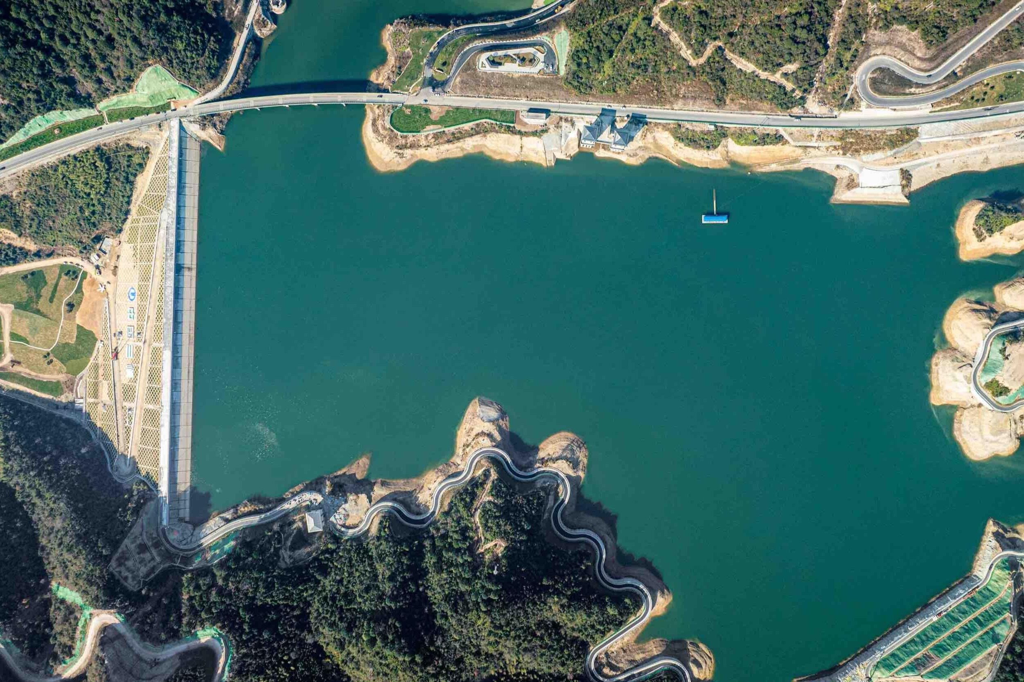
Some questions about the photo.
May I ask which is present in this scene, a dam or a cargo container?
dam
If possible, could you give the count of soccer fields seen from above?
0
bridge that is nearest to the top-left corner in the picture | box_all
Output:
[188,92,409,115]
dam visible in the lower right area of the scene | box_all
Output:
[796,551,1024,682]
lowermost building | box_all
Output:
[306,509,324,532]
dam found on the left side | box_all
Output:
[75,120,202,523]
